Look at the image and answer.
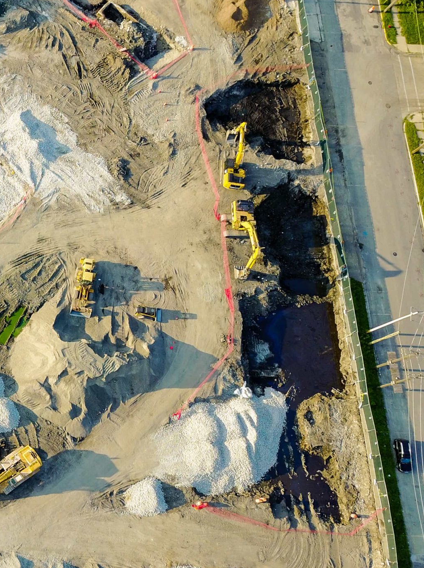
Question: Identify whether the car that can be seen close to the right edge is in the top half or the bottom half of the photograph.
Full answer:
The car that can be seen close to the right edge is in the bottom half of the image.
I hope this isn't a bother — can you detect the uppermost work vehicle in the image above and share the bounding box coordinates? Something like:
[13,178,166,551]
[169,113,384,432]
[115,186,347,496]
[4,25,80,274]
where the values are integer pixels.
[220,124,249,195]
